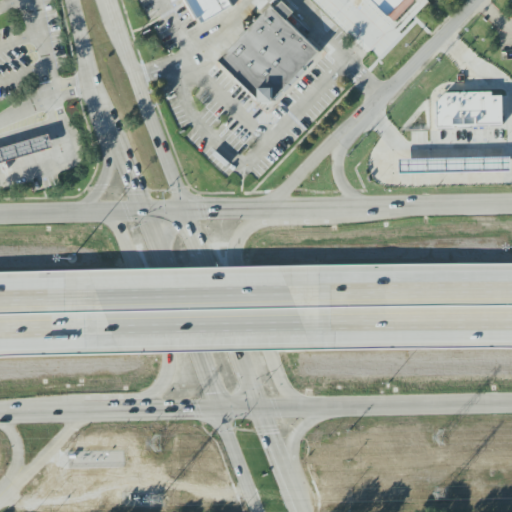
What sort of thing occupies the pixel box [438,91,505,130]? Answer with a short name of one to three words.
building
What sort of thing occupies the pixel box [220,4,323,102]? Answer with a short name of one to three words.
building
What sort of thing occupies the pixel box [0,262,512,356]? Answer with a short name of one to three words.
overpass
